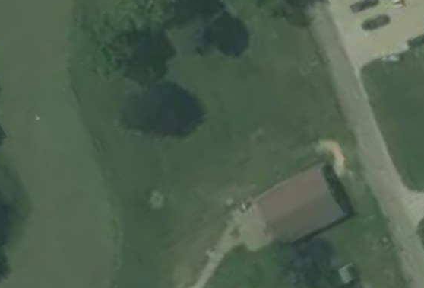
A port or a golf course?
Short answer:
golf course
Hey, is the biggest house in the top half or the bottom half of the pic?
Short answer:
bottom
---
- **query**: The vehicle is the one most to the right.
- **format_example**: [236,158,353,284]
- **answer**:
[406,35,424,50]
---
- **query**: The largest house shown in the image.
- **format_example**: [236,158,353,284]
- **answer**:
[257,165,346,240]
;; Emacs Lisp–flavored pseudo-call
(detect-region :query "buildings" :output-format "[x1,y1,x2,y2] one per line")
[257,165,346,240]
[338,264,353,283]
